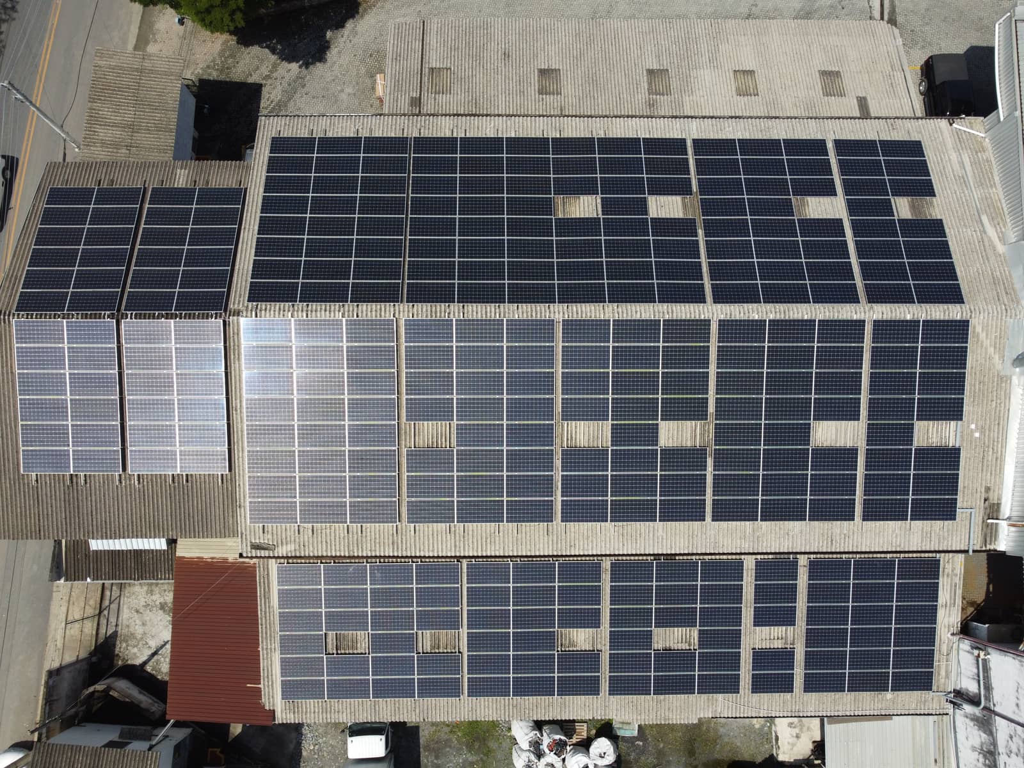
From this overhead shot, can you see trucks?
Yes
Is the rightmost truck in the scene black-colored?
Yes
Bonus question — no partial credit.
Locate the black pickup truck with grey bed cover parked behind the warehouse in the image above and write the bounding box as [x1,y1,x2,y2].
[921,61,975,120]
